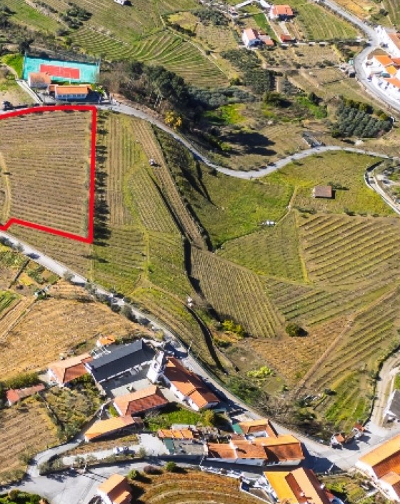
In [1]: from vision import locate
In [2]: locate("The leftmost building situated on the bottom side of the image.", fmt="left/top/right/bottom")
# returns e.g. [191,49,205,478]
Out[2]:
[6,380,47,410]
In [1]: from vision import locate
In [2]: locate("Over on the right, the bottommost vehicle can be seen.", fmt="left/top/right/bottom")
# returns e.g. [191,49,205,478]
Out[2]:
[311,440,328,454]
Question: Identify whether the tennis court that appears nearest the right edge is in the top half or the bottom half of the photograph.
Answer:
top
